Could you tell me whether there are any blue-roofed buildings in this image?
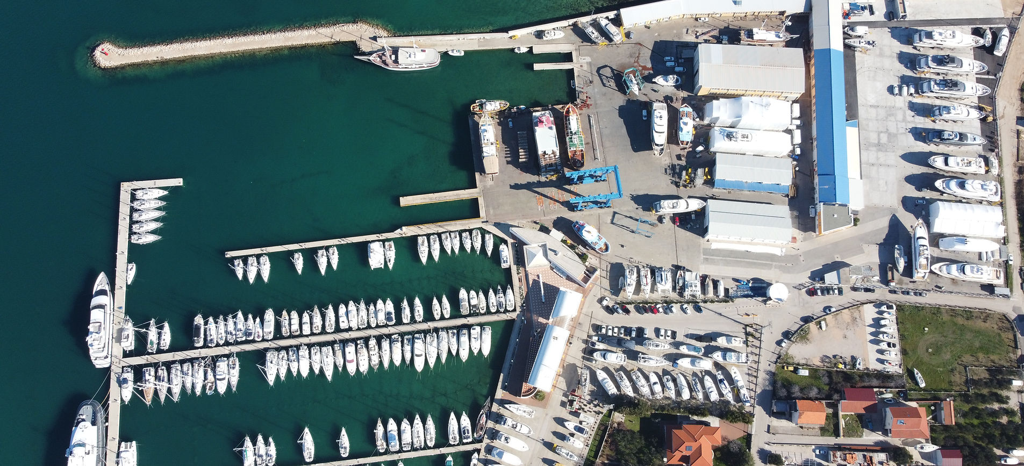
Yes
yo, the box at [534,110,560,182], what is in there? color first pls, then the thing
white ship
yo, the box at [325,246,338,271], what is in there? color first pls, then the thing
white boat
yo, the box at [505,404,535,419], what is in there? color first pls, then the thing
white boat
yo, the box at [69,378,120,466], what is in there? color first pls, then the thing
white vessel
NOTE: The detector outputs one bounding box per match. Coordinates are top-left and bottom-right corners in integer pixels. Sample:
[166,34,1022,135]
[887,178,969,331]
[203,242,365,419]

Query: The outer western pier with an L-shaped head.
[106,178,184,466]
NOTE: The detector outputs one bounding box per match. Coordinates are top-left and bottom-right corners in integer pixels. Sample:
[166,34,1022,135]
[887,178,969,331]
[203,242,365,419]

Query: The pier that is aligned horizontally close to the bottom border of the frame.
[300,443,482,466]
